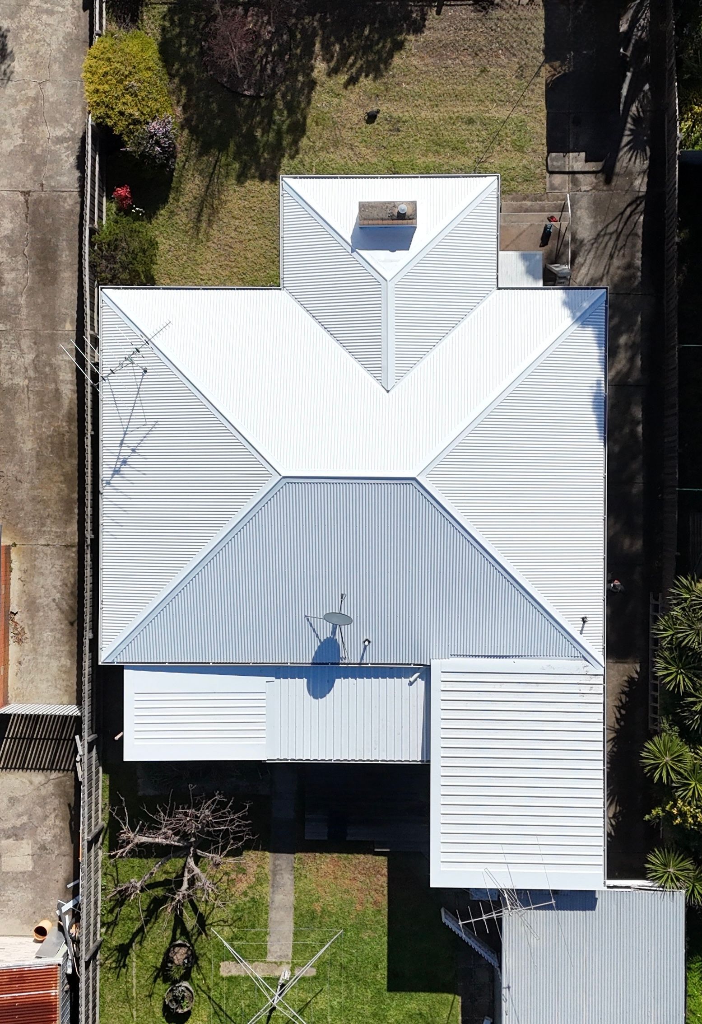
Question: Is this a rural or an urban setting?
urban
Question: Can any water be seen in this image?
No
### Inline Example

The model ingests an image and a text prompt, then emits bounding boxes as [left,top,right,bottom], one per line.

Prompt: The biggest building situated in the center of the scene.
[97,172,610,888]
